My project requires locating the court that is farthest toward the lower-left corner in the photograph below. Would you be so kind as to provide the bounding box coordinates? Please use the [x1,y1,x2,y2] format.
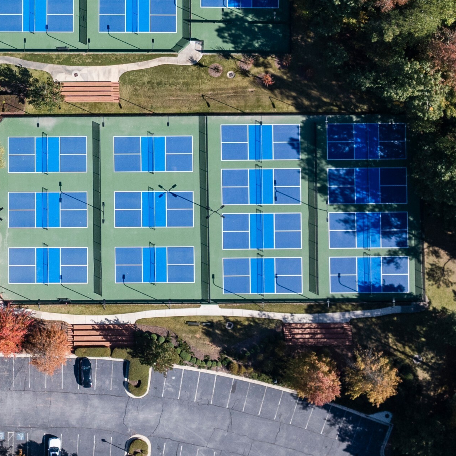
[9,245,88,286]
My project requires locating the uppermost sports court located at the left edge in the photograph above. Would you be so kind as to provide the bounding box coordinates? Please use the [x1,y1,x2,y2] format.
[0,0,74,34]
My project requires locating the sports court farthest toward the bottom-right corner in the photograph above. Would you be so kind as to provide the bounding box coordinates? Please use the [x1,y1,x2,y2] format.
[329,255,410,296]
